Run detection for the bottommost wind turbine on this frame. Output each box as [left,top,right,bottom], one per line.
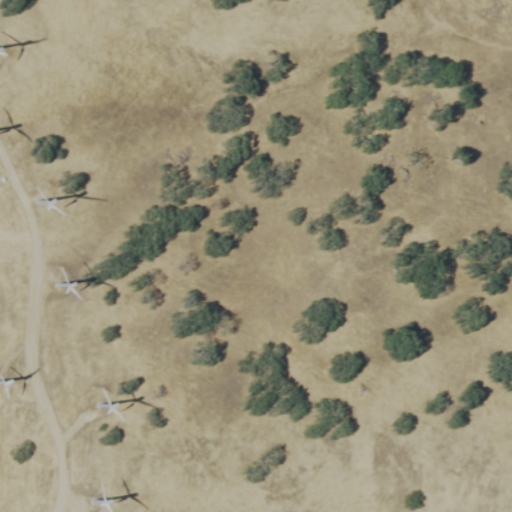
[92,486,114,512]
